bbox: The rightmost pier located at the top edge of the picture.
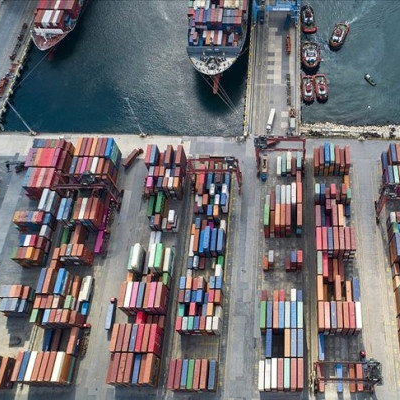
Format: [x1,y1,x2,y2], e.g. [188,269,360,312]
[242,0,304,136]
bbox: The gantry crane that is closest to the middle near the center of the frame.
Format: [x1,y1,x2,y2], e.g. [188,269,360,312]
[185,155,242,193]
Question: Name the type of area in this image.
port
